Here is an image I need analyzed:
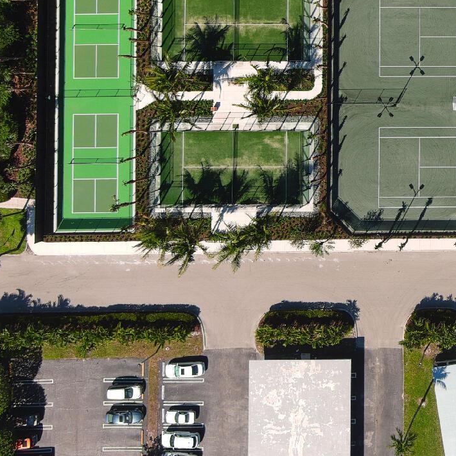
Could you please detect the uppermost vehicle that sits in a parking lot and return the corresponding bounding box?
[168,361,207,379]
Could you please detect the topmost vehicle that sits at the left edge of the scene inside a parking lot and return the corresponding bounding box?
[10,413,46,431]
